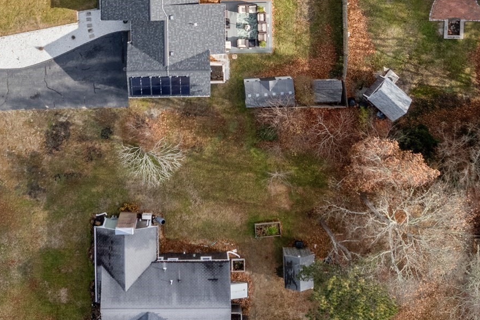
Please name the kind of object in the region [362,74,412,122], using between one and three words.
shed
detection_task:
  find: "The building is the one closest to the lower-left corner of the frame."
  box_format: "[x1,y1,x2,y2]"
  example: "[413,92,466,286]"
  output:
[94,210,248,320]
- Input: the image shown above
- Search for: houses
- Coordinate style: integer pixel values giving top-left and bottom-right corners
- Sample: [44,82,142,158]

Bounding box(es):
[98,0,225,98]
[94,210,248,320]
